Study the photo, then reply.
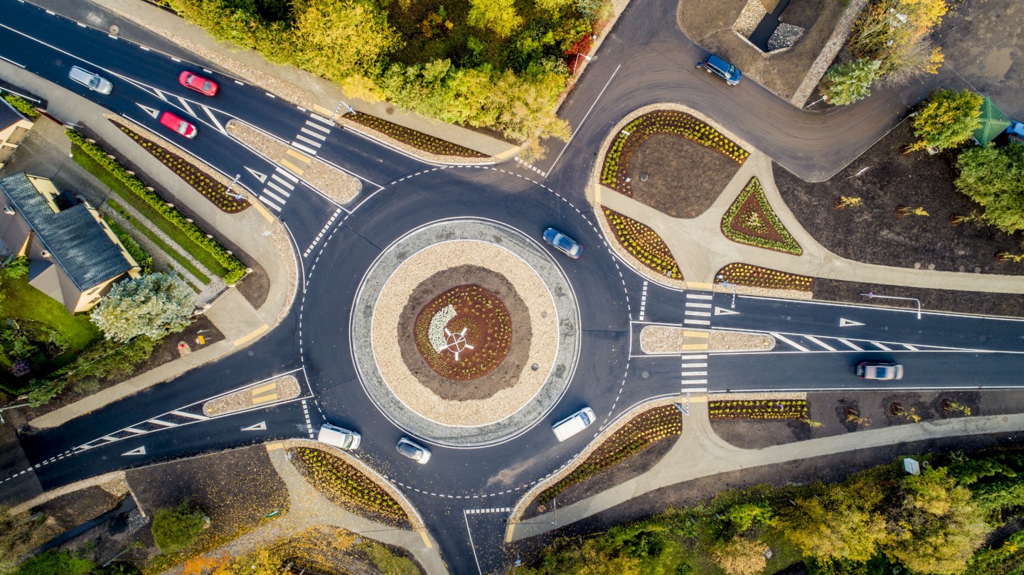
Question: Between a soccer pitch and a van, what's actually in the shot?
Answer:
van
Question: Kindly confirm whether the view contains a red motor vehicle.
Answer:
Yes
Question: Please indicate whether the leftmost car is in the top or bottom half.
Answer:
top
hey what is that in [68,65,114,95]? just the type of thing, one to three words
car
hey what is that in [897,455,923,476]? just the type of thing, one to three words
shed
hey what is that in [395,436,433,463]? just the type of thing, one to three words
car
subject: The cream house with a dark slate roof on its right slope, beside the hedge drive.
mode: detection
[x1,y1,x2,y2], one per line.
[0,166,149,317]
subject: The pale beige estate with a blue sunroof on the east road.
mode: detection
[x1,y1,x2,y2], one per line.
[857,362,900,380]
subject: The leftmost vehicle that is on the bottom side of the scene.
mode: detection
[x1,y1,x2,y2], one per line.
[316,424,362,450]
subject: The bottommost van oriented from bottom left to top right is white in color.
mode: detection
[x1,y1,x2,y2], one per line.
[553,407,596,442]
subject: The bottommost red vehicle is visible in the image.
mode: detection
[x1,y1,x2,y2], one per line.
[157,111,199,139]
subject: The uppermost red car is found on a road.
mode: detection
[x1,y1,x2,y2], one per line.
[180,71,221,97]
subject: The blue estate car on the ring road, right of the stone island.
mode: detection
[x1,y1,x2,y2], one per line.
[542,227,583,259]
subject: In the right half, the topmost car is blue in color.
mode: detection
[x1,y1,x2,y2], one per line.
[696,53,742,84]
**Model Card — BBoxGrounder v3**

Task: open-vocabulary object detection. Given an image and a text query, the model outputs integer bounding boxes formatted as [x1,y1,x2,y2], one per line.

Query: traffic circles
[296,165,635,502]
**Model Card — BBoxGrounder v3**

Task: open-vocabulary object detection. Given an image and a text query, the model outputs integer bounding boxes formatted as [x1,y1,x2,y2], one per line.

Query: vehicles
[180,71,221,97]
[542,227,583,259]
[68,65,114,95]
[157,111,199,139]
[857,362,900,380]
[696,53,742,84]
[553,407,596,442]
[395,436,433,463]
[316,424,362,450]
